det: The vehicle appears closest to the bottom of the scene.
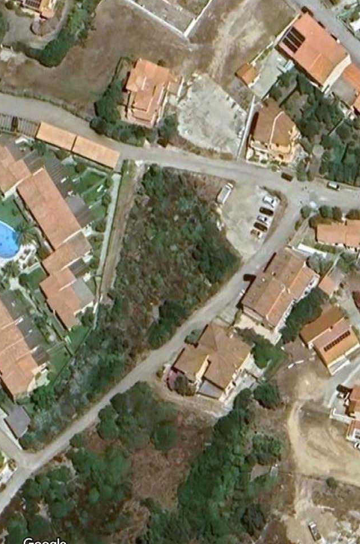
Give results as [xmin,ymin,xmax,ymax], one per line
[308,523,320,542]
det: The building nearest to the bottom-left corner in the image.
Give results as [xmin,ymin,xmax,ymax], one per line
[3,404,31,438]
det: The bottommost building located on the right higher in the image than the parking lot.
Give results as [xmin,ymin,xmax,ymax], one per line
[247,102,299,162]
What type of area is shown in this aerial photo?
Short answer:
residential area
